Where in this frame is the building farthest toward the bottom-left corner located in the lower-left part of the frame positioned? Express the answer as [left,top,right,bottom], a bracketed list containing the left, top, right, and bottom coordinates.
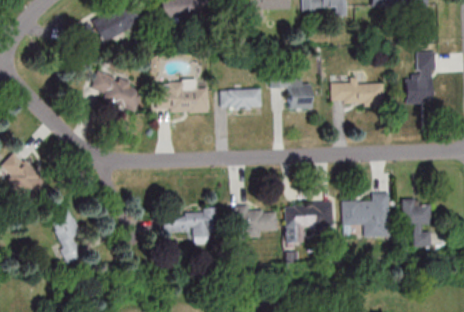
[53,212,80,264]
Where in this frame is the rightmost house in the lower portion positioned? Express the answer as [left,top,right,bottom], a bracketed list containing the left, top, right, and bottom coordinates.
[398,197,431,248]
